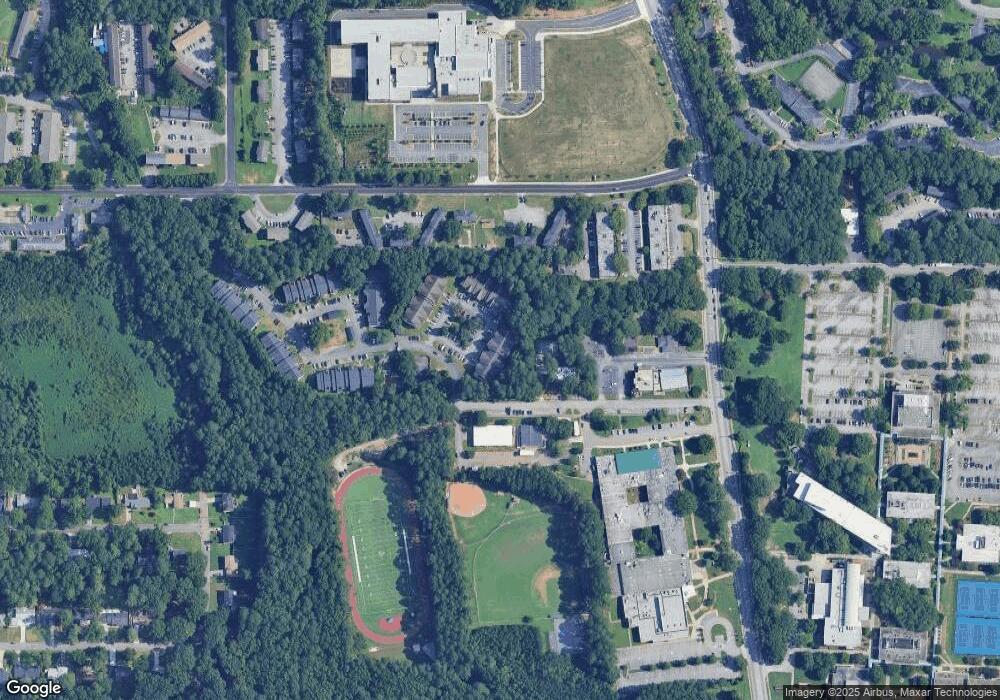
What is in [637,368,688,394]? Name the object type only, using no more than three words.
building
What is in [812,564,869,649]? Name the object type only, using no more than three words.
building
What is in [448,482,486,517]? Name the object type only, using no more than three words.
baseball field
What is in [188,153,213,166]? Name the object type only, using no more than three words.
house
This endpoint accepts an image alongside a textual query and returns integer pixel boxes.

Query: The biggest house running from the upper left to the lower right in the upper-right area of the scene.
[771,73,829,130]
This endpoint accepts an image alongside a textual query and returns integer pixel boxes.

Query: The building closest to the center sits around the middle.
[473,339,508,378]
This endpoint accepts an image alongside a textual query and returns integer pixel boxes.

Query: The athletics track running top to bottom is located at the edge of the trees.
[334,467,429,643]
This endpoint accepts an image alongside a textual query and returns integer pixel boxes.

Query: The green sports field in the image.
[342,474,422,636]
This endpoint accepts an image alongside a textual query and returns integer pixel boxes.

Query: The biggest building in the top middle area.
[341,10,493,100]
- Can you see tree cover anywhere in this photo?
Yes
